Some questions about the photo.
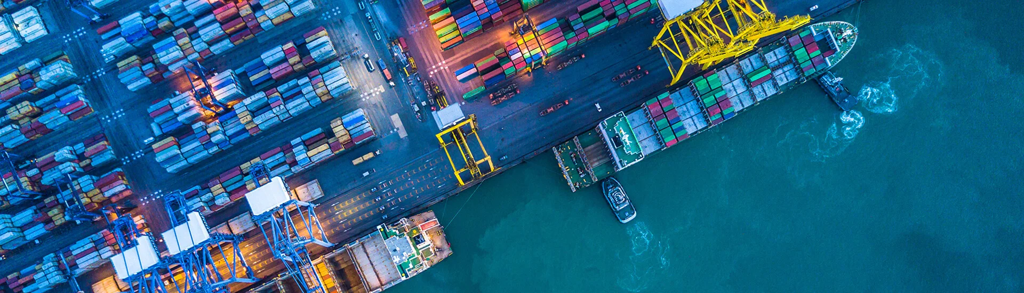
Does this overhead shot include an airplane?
No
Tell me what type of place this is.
port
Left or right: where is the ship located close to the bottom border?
left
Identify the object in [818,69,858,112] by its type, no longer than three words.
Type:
boat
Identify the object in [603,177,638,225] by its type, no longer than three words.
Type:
boat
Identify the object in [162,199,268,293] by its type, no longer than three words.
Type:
container crane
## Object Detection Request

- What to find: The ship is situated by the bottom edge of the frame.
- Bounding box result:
[244,211,453,293]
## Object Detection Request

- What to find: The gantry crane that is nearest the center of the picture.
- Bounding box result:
[430,85,499,186]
